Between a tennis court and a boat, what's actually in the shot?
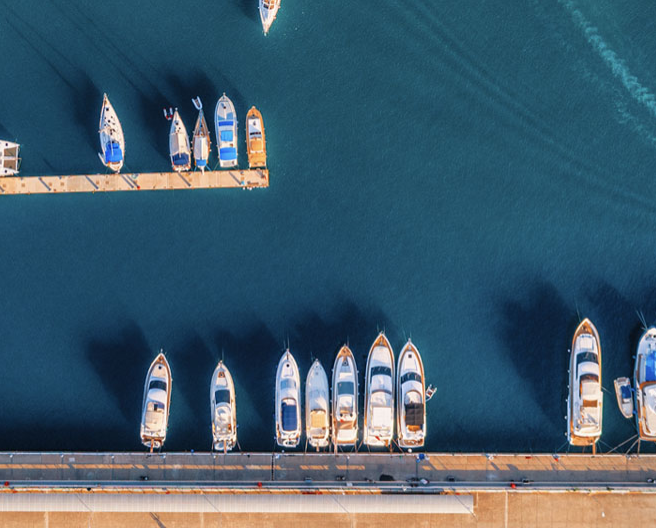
boat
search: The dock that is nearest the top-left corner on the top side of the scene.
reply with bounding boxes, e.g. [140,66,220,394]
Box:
[0,170,269,195]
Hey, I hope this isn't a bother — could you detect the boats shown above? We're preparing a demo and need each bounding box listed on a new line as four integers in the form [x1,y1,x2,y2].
[611,375,633,420]
[241,93,275,172]
[298,345,338,459]
[187,95,215,176]
[163,106,172,122]
[425,383,439,399]
[268,333,307,456]
[391,328,434,457]
[635,311,656,458]
[326,333,365,459]
[0,140,20,175]
[213,85,246,171]
[139,338,175,459]
[203,350,246,459]
[256,0,282,37]
[167,98,195,176]
[565,306,608,460]
[191,94,203,112]
[359,314,398,460]
[98,83,133,177]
